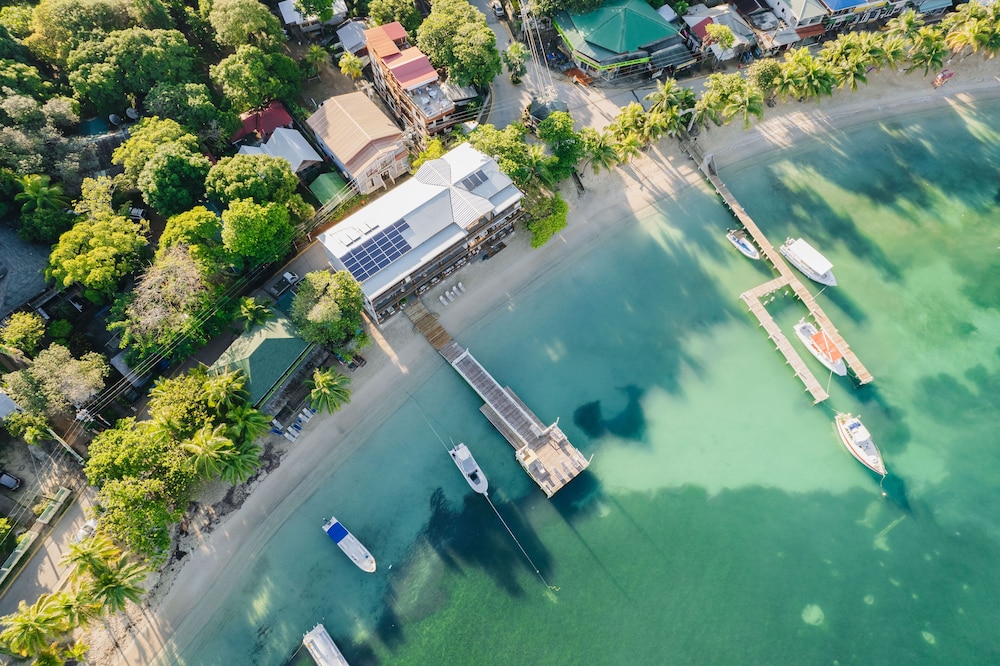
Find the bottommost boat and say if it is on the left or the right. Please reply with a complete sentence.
The bottommost boat appears in the left half of the scene.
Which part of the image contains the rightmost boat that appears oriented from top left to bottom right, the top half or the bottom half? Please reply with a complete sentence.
Seen from above, the rightmost boat that appears oriented from top left to bottom right lies in the bottom half of the view.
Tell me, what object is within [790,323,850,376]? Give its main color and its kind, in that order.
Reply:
white boat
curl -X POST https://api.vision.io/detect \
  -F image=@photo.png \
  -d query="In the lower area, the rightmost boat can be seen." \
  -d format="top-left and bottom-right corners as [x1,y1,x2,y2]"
[829,412,895,482]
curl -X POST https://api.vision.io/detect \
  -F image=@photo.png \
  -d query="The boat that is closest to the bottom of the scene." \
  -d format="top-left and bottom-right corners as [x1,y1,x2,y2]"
[299,625,356,666]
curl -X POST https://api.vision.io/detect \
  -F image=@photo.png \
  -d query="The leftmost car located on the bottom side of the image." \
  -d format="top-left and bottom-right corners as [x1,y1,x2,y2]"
[0,466,24,498]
